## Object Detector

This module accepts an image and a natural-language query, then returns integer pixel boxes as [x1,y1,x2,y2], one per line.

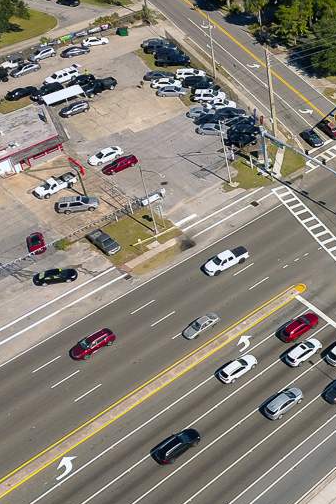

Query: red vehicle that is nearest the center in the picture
[103,155,137,175]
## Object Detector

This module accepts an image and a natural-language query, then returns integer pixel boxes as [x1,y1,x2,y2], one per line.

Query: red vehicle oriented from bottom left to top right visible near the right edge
[280,313,321,345]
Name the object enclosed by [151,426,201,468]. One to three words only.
car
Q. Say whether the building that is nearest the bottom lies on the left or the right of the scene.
left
